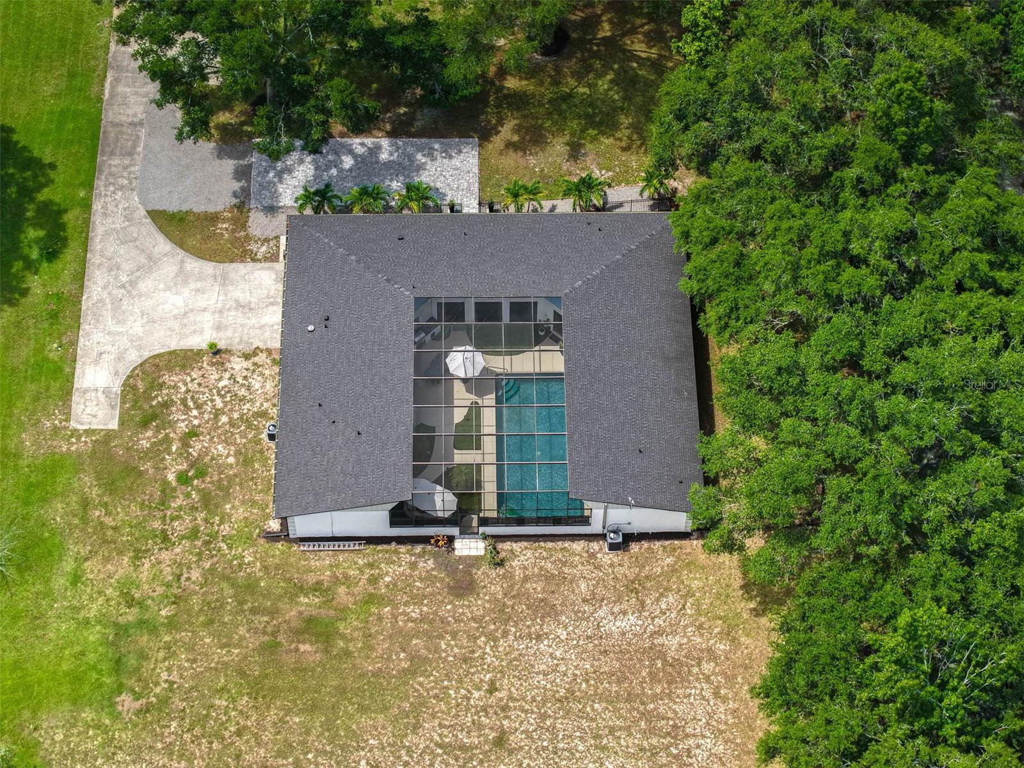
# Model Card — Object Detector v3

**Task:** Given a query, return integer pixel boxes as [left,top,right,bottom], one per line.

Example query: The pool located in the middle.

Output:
[496,373,584,516]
